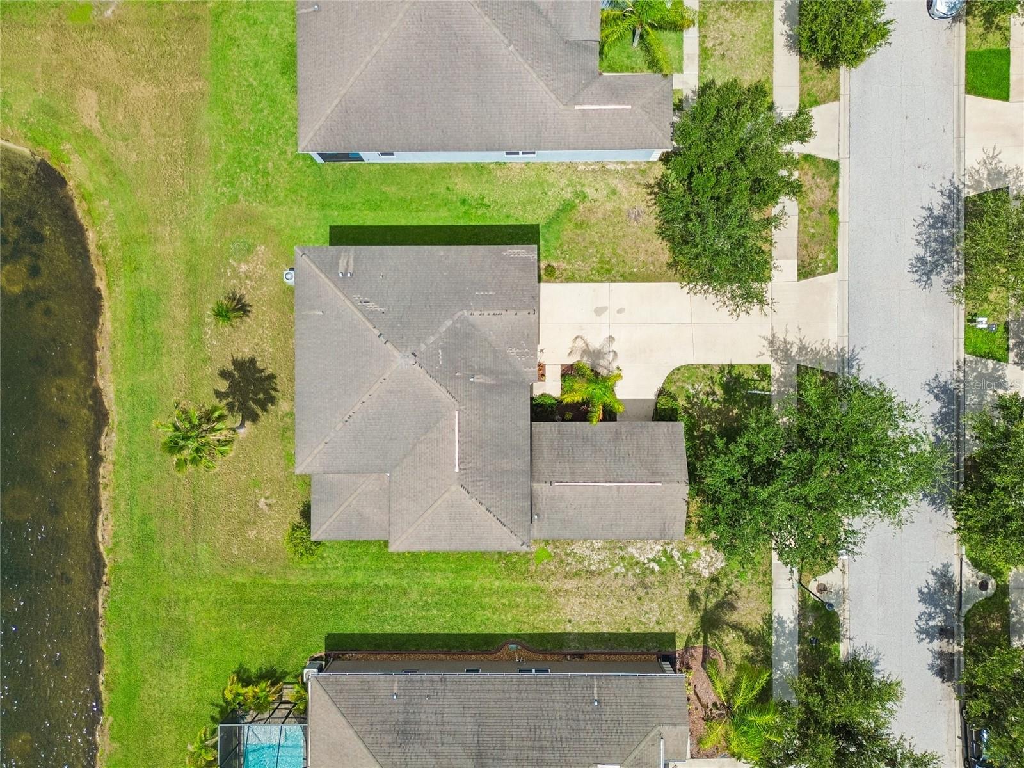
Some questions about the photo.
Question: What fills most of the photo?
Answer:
grass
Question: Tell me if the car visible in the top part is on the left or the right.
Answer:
right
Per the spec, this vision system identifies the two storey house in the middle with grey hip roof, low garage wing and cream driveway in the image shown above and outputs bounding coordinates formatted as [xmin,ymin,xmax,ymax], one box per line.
[294,244,691,553]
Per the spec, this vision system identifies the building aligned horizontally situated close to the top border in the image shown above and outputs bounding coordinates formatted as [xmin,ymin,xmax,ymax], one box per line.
[297,0,673,163]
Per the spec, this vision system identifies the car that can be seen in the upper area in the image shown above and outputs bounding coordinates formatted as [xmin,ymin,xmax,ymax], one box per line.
[924,0,961,23]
